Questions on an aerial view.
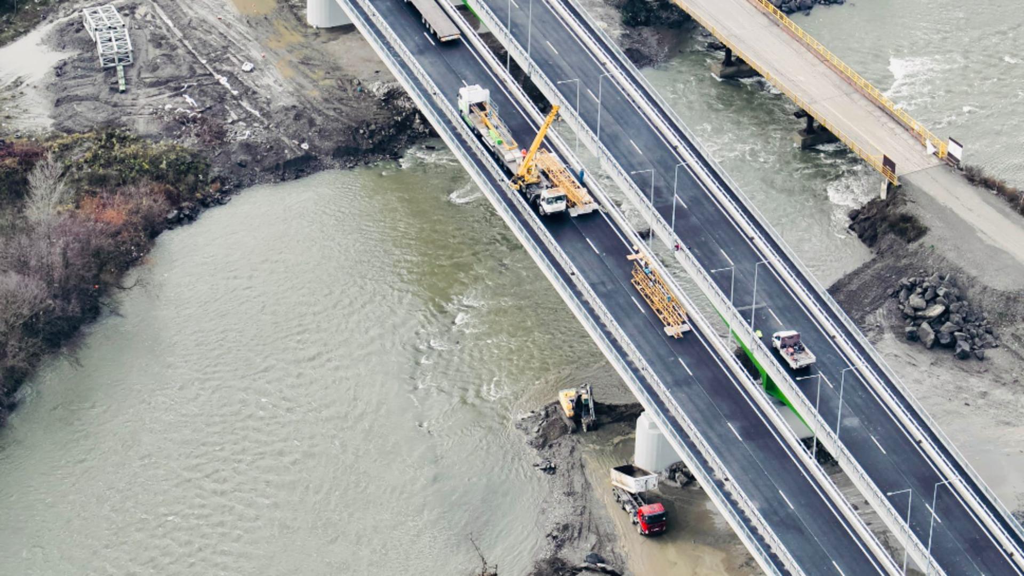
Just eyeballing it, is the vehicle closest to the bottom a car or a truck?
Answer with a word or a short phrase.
truck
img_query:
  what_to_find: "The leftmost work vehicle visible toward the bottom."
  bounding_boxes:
[556,391,599,437]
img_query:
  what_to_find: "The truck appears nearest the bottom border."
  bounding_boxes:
[613,466,669,535]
